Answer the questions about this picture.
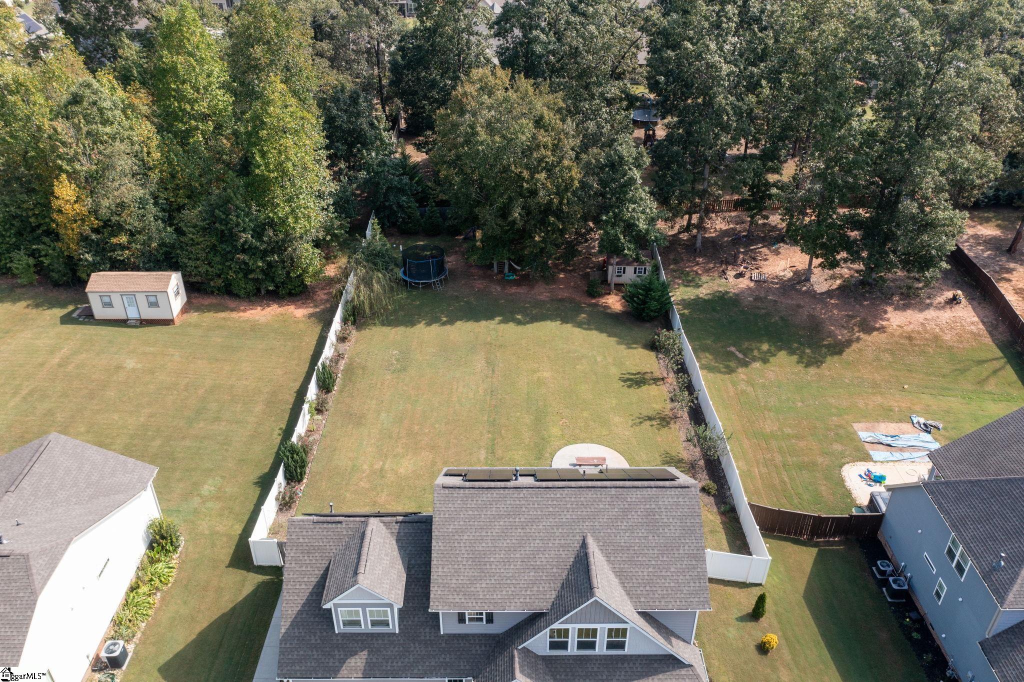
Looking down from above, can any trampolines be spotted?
Yes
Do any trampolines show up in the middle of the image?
Yes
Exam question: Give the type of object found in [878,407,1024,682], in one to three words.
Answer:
house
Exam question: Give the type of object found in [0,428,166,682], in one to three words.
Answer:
house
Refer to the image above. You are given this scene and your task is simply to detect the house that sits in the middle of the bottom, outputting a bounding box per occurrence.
[276,458,711,682]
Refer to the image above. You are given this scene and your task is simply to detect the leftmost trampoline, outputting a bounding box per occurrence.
[401,245,449,293]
